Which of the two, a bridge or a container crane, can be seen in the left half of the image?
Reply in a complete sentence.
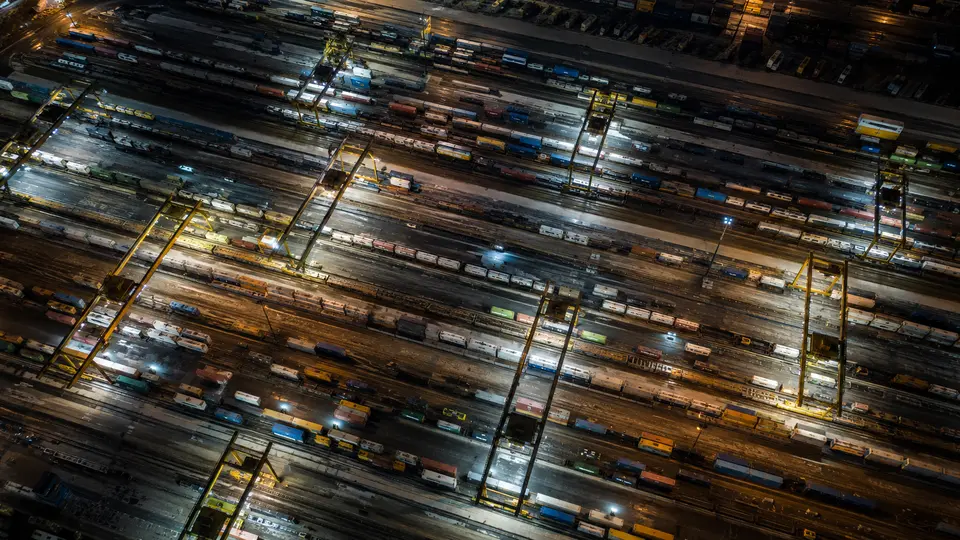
You can see a container crane in the left half of the image.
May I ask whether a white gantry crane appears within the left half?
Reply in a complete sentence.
No, there is no white gantry crane within the left half.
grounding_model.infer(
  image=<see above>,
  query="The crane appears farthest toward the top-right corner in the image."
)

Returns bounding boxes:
[854,160,908,266]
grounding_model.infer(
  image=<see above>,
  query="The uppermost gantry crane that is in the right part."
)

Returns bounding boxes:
[562,88,620,195]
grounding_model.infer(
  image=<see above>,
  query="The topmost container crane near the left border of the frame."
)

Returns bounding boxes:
[0,76,112,199]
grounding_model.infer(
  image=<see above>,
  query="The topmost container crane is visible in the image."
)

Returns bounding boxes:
[292,33,360,131]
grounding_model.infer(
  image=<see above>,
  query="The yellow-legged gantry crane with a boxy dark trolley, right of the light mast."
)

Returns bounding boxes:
[775,250,849,420]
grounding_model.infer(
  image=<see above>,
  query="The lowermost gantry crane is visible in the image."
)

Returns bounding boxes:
[176,431,283,540]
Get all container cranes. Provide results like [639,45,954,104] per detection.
[36,193,218,391]
[292,33,360,131]
[775,250,849,420]
[854,160,908,266]
[271,131,376,276]
[562,88,620,195]
[474,286,582,516]
[0,76,112,199]
[176,431,283,540]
